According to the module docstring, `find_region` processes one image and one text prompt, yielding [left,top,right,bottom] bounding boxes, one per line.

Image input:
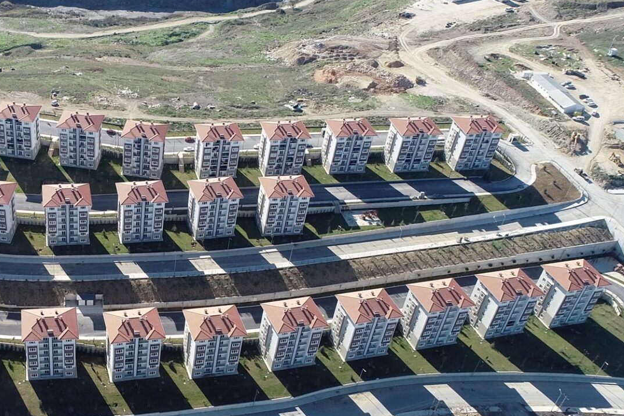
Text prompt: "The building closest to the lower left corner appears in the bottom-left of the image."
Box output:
[22,307,79,383]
